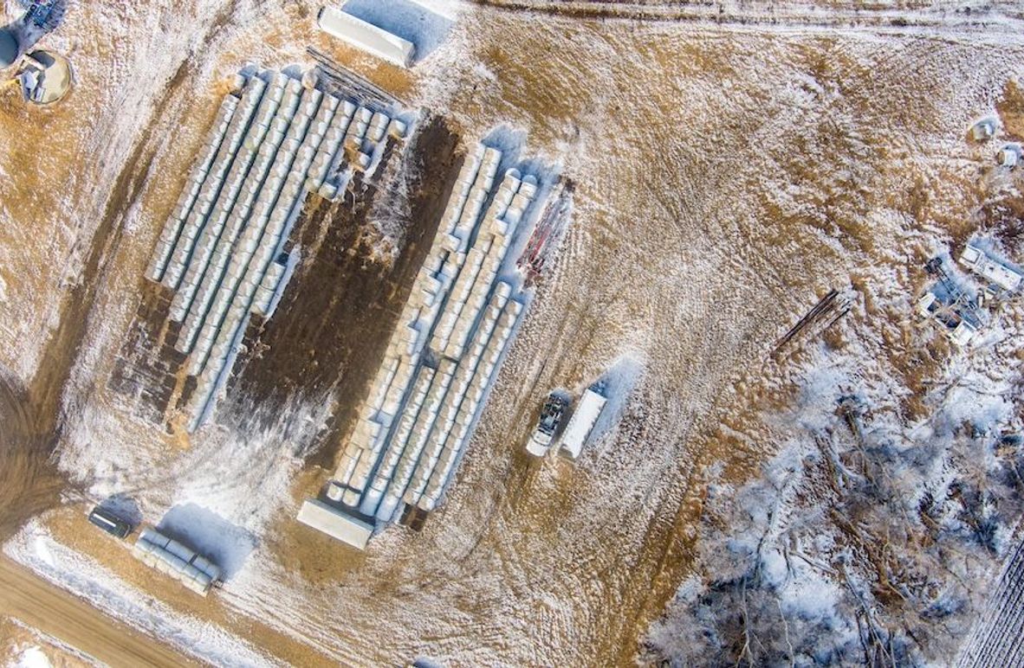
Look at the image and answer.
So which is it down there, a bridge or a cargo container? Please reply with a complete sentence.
Visible in the photo is a cargo container.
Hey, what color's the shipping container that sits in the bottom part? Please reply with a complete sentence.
The shipping container that sits in the bottom part looks white in the image.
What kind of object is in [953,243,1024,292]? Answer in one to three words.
truck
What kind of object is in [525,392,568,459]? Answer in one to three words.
truck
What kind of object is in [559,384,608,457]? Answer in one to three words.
trailer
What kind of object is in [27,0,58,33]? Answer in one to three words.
work vehicle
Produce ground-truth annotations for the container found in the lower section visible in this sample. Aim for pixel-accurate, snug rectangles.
[297,493,378,551]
